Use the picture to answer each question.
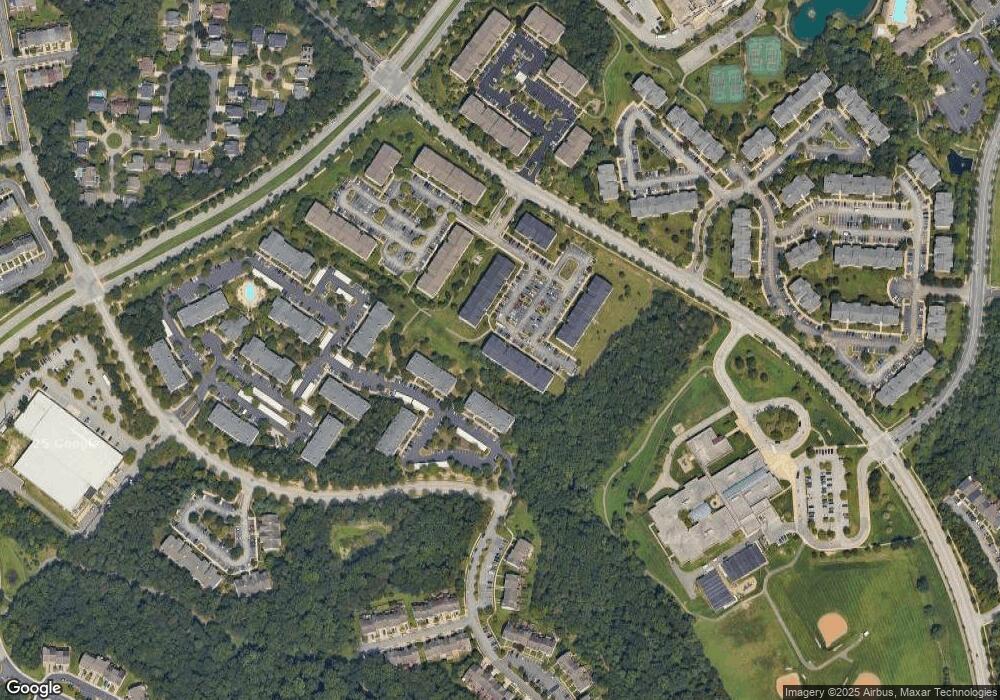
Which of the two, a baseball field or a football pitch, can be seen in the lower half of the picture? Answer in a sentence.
There is a baseball field in the lower half of the picture.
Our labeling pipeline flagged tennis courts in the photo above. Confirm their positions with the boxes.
[747,37,765,75]
[728,66,744,103]
[710,66,728,103]
[764,37,781,75]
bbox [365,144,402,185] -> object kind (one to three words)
building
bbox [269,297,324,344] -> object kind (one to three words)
building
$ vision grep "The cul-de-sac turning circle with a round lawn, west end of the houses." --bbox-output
[99,125,130,156]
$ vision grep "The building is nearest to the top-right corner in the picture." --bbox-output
[896,0,956,55]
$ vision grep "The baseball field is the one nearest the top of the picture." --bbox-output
[818,612,848,650]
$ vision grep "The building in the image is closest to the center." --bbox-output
[481,334,554,391]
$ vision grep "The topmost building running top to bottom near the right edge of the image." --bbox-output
[935,192,952,229]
